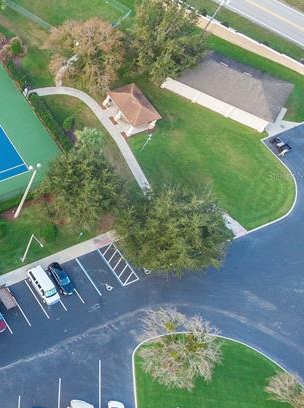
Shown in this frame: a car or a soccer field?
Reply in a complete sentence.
This aerial view contains a car.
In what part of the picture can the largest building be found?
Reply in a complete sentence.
You can find the largest building in the top right area of the picture.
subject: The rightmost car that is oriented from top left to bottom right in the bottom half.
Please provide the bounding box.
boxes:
[47,261,75,296]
